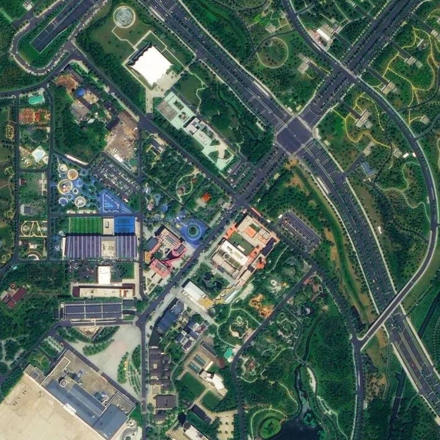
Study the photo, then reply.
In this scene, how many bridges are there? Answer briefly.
2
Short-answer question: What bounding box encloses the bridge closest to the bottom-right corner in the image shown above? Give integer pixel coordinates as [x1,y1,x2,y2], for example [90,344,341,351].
[358,233,438,344]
